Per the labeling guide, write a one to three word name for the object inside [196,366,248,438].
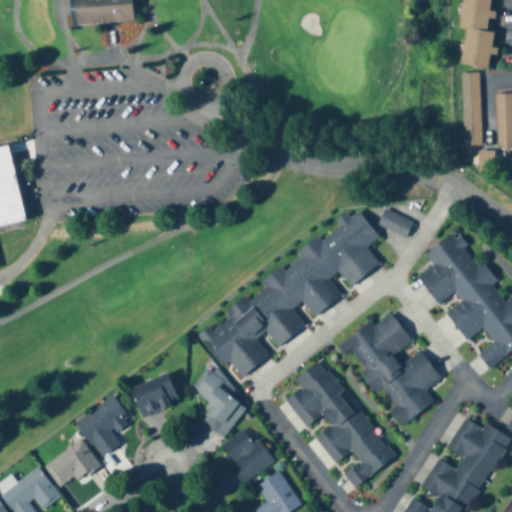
house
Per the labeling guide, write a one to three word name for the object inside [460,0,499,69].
building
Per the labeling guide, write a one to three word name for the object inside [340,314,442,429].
house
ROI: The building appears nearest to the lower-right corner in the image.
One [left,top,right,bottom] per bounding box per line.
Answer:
[406,414,512,512]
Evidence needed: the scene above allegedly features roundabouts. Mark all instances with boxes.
[172,51,237,128]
